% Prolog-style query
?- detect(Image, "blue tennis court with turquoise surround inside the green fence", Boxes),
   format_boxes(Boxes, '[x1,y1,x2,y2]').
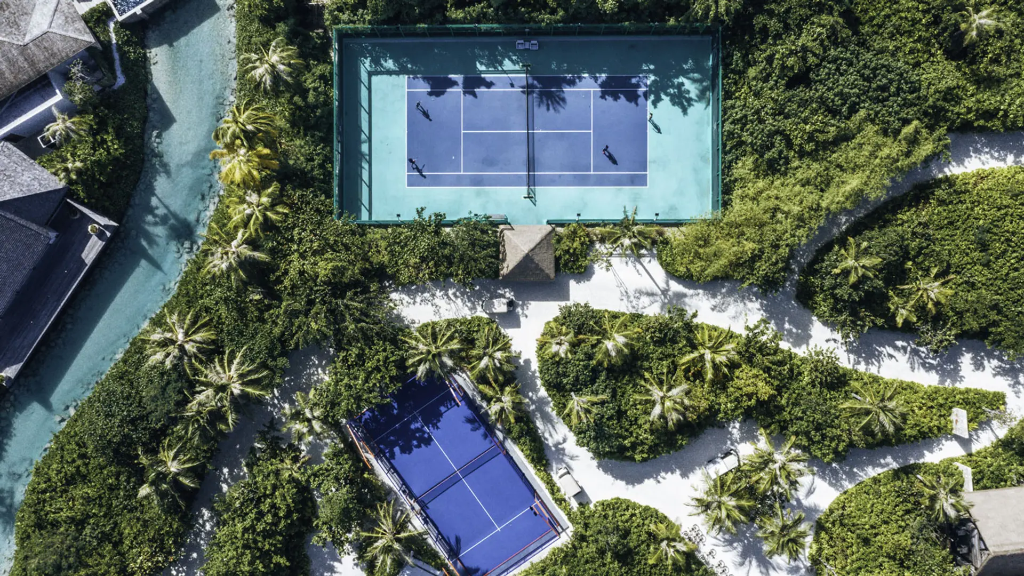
[343,38,713,224]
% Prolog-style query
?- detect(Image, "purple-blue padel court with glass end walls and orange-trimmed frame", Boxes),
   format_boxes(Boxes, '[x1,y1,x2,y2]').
[345,360,569,576]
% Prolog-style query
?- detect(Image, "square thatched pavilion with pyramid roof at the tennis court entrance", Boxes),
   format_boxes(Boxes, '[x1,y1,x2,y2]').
[499,225,555,281]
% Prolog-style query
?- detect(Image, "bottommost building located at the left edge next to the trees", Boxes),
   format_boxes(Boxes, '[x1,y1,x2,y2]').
[0,142,123,392]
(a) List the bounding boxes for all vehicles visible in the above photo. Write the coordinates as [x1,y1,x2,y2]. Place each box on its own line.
[702,448,737,478]
[482,299,511,312]
[554,464,581,496]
